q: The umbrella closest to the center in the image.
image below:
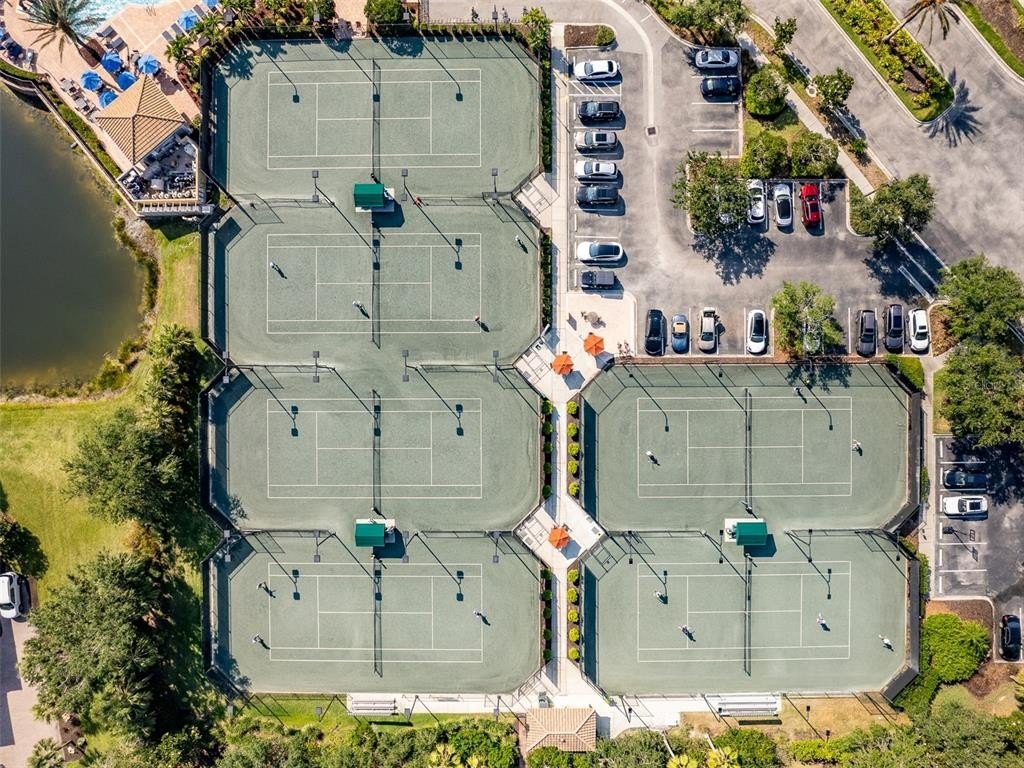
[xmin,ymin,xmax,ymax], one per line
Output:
[551,352,574,376]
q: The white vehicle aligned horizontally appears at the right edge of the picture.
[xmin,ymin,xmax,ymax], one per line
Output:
[940,496,988,517]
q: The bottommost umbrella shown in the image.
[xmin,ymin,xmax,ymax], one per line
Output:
[547,525,569,549]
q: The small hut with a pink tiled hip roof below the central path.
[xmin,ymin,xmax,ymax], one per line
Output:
[526,700,597,753]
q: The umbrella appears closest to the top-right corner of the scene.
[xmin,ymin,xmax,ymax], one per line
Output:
[583,333,605,356]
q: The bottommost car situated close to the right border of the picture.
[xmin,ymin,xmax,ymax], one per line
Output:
[996,613,1021,658]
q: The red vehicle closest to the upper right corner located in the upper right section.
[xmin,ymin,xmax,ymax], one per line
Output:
[797,184,821,228]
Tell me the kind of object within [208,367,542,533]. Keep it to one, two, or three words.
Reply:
tennis court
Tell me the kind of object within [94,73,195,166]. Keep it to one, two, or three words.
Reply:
building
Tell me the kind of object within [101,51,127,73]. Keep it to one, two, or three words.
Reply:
umbrella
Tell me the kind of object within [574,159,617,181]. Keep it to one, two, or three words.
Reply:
car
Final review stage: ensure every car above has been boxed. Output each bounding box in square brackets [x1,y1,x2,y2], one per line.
[996,613,1021,658]
[940,496,988,517]
[574,159,617,181]
[644,310,664,355]
[854,311,876,354]
[797,184,821,228]
[670,314,690,353]
[939,470,986,490]
[697,304,718,353]
[694,49,738,72]
[0,574,25,618]
[575,185,619,206]
[577,242,623,262]
[574,129,617,152]
[905,310,930,352]
[745,181,767,225]
[577,100,620,122]
[697,77,740,99]
[770,185,792,227]
[578,269,618,289]
[574,59,619,82]
[745,310,767,354]
[880,306,904,350]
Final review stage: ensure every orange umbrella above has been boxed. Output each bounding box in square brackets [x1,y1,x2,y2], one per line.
[583,333,605,356]
[547,525,569,549]
[551,352,574,376]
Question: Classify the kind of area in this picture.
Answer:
sports ground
